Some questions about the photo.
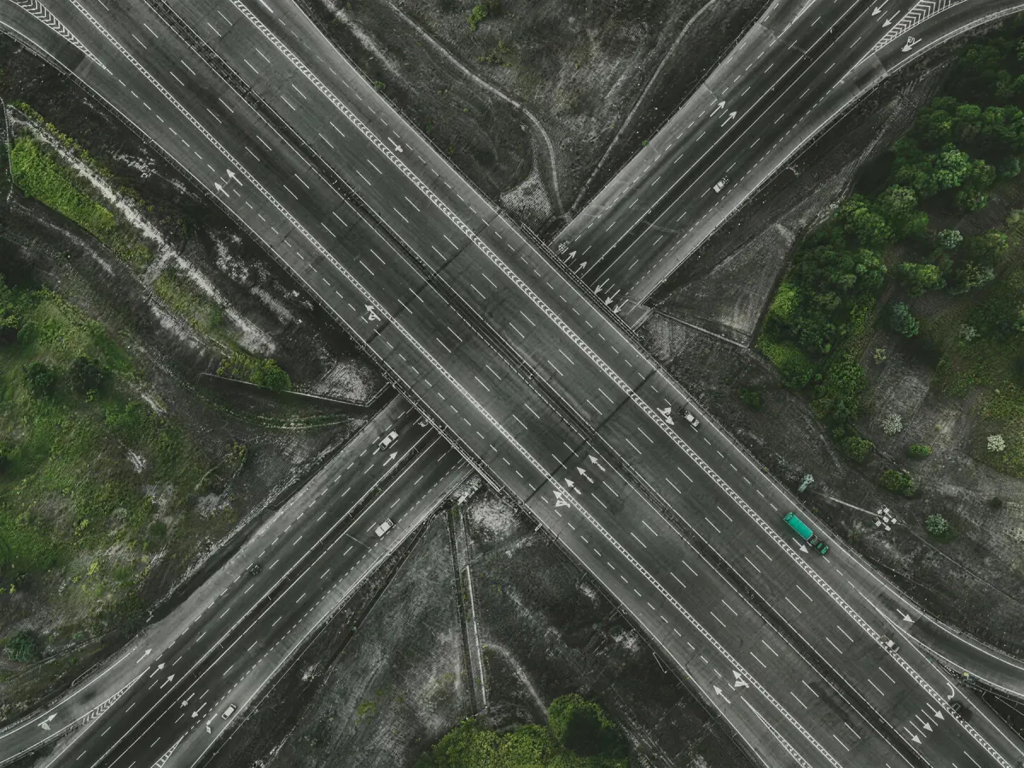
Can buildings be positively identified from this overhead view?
No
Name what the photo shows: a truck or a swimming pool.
truck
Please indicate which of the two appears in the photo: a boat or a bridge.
bridge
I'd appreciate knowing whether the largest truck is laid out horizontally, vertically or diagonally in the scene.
diagonally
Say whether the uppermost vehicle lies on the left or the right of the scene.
right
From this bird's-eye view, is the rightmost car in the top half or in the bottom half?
bottom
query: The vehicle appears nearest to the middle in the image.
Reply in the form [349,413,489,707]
[377,430,400,450]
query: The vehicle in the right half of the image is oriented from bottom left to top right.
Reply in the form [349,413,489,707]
[711,173,732,193]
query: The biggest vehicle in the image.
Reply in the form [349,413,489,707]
[782,510,831,556]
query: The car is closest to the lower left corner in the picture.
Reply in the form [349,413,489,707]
[219,702,236,720]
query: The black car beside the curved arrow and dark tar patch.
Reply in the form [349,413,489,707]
[948,700,969,720]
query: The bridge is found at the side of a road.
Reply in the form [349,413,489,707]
[360,207,661,508]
